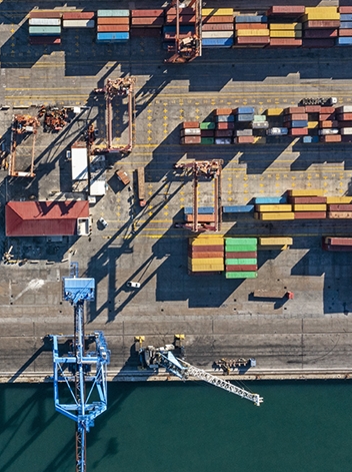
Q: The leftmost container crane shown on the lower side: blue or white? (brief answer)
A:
blue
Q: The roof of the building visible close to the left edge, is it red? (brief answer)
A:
Yes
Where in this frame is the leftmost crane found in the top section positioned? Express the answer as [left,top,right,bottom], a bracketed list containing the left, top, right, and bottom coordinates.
[1,113,40,181]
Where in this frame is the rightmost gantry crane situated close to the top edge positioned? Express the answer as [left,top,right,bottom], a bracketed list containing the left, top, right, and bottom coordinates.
[160,0,207,66]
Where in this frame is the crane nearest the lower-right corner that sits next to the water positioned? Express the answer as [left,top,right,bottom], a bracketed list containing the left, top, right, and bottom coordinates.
[136,335,263,405]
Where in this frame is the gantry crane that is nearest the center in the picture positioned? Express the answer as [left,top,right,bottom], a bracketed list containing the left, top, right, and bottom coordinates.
[171,157,221,229]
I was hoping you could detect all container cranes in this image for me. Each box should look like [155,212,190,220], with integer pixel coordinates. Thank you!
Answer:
[160,0,207,66]
[91,74,135,153]
[171,157,221,229]
[1,113,40,181]
[50,252,112,472]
